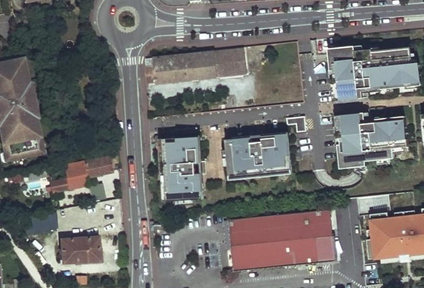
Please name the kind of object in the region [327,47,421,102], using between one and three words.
building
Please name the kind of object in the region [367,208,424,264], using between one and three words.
house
